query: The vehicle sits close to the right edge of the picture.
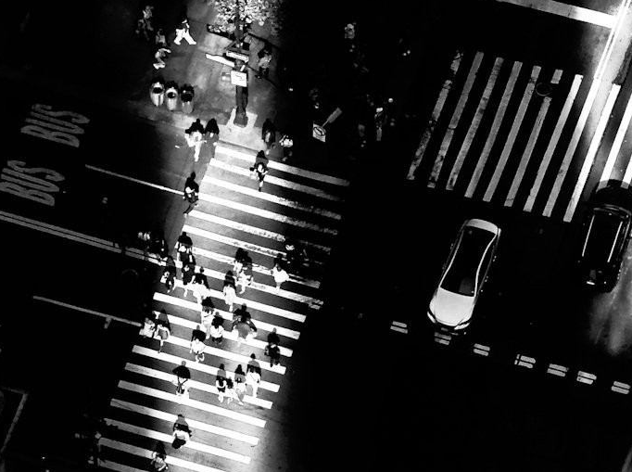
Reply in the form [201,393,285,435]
[572,190,632,296]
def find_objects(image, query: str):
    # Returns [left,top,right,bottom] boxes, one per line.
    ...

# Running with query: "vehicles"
[431,220,498,331]
[572,190,632,296]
